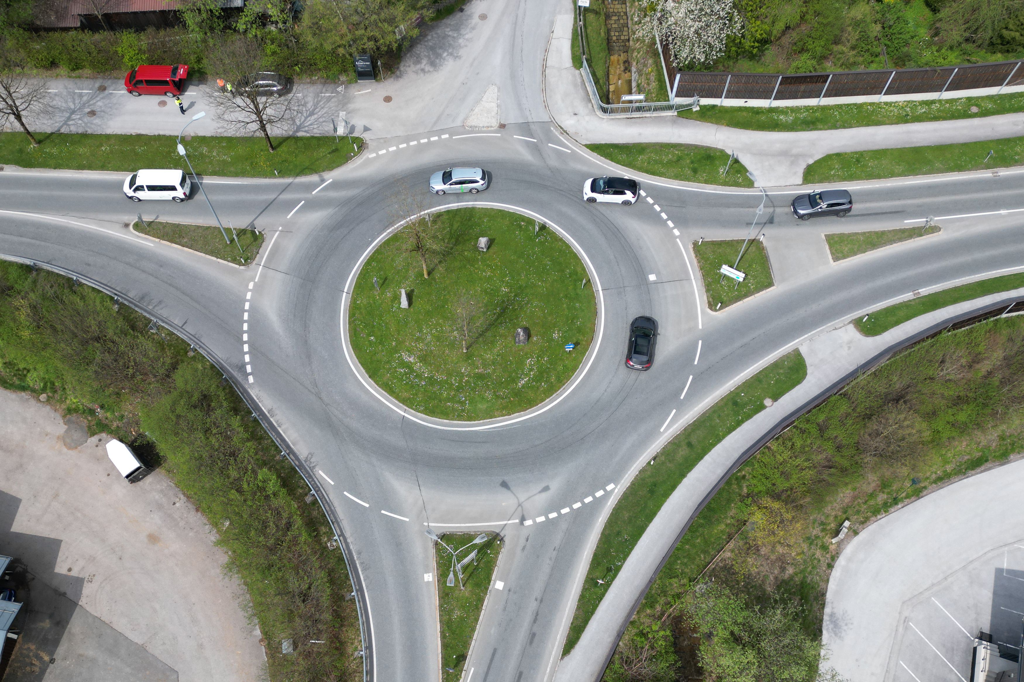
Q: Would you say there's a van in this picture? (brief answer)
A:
Yes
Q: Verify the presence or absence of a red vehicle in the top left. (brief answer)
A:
Yes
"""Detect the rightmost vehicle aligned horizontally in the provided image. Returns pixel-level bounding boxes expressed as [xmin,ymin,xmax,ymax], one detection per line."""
[792,188,858,221]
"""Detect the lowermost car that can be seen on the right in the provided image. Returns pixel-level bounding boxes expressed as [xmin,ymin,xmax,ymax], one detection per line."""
[625,313,660,371]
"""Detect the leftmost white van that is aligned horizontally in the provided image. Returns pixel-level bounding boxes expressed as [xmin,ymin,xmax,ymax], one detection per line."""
[120,170,192,203]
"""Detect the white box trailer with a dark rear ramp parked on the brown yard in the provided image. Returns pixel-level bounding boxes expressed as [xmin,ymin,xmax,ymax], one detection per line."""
[106,439,151,487]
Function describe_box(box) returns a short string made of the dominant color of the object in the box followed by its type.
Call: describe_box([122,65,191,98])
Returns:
red van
